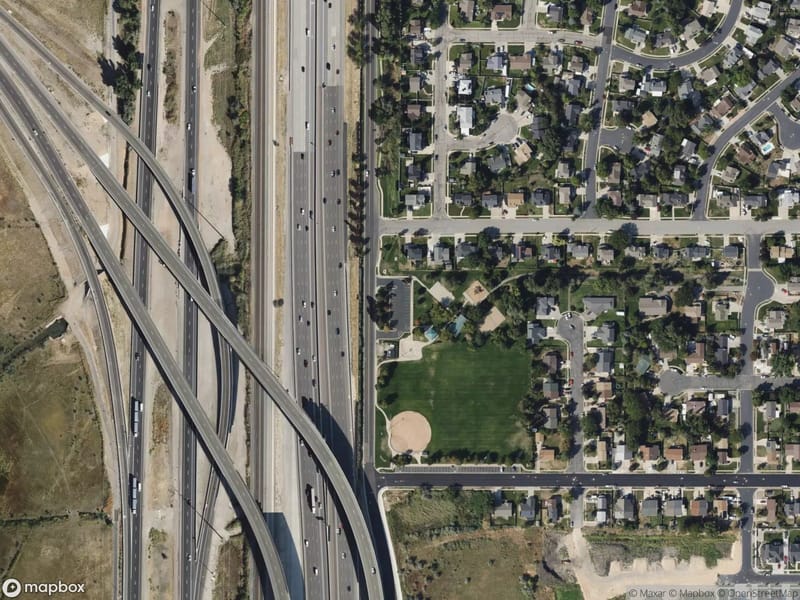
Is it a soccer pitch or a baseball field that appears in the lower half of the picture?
baseball field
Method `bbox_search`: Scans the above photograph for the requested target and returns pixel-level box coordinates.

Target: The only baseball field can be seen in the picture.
[378,345,530,455]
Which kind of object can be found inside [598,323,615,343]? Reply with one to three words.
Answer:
house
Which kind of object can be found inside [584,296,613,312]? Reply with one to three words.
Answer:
house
